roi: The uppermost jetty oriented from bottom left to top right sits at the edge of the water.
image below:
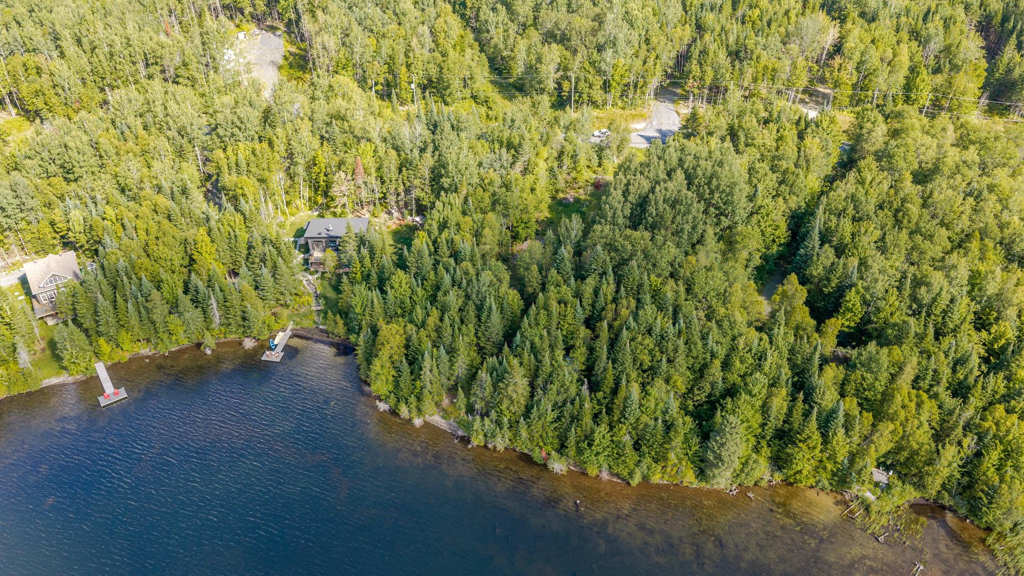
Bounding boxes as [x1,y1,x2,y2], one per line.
[260,322,293,363]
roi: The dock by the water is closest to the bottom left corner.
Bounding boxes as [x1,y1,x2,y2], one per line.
[96,362,129,409]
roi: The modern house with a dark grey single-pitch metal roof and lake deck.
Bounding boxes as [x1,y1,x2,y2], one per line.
[298,217,370,274]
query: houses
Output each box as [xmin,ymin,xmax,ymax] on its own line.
[22,249,101,328]
[298,217,370,274]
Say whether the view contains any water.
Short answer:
Yes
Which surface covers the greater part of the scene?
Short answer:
trees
